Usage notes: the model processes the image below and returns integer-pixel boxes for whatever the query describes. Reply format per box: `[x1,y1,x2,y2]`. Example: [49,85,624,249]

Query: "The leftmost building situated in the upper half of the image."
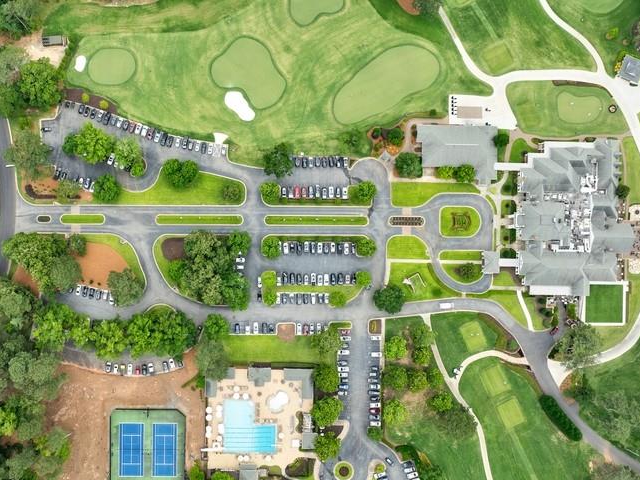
[415,125,498,188]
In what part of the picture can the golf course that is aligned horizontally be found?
top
